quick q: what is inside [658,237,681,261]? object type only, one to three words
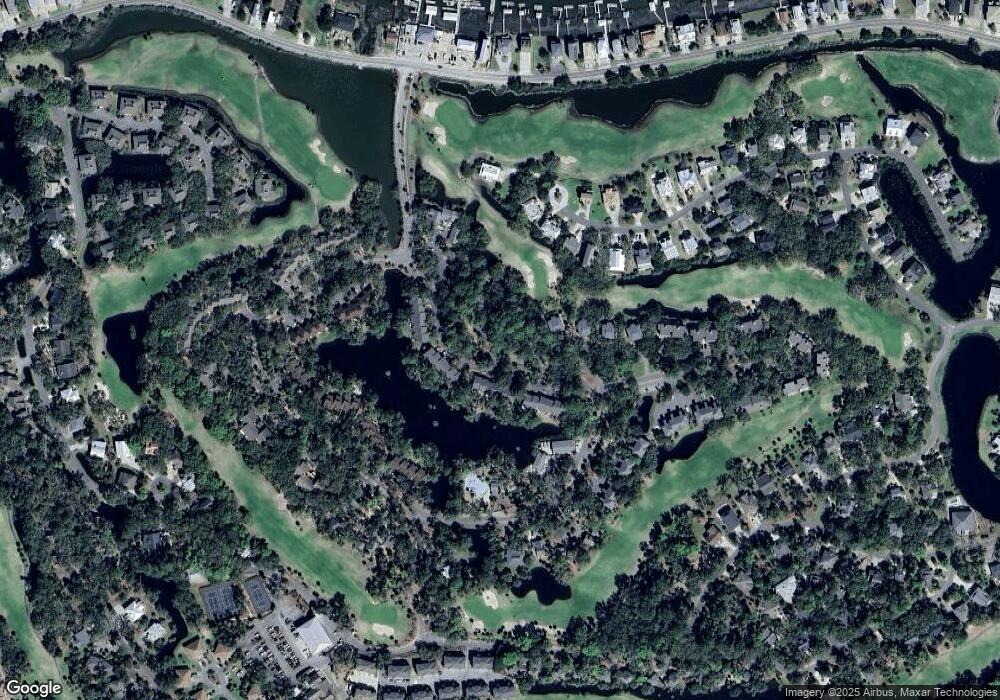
house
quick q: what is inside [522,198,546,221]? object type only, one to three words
house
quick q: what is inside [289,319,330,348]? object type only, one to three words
building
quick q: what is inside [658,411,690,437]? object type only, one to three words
building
